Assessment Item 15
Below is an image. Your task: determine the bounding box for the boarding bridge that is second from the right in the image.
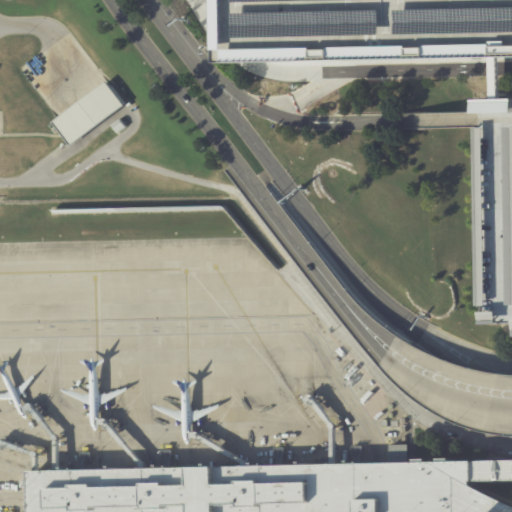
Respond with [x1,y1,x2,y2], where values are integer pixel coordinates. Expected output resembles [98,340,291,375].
[188,430,247,466]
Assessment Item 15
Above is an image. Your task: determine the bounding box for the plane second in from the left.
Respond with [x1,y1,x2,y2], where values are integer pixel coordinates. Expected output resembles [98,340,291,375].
[58,358,126,431]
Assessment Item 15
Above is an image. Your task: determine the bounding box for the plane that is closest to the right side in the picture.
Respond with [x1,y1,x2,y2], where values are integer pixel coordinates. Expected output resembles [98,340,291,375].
[150,378,218,444]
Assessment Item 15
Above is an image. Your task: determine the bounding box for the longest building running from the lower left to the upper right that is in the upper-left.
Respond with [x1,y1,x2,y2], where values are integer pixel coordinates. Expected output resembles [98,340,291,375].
[51,79,126,144]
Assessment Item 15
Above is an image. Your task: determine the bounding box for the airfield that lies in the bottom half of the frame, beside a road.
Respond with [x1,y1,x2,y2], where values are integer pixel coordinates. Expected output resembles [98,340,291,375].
[0,238,404,512]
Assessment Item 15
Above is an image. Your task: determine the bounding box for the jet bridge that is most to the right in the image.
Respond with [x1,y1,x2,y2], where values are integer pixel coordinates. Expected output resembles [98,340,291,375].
[302,392,338,464]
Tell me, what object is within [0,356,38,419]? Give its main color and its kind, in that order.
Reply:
white airplane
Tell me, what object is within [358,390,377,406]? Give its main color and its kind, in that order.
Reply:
white vehicle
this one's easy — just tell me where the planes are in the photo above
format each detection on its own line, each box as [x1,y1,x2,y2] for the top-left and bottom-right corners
[150,378,218,444]
[58,358,126,431]
[0,356,38,419]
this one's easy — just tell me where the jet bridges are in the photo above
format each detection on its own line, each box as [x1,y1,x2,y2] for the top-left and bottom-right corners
[0,434,43,471]
[302,392,338,464]
[18,400,64,470]
[188,430,247,466]
[94,416,148,468]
